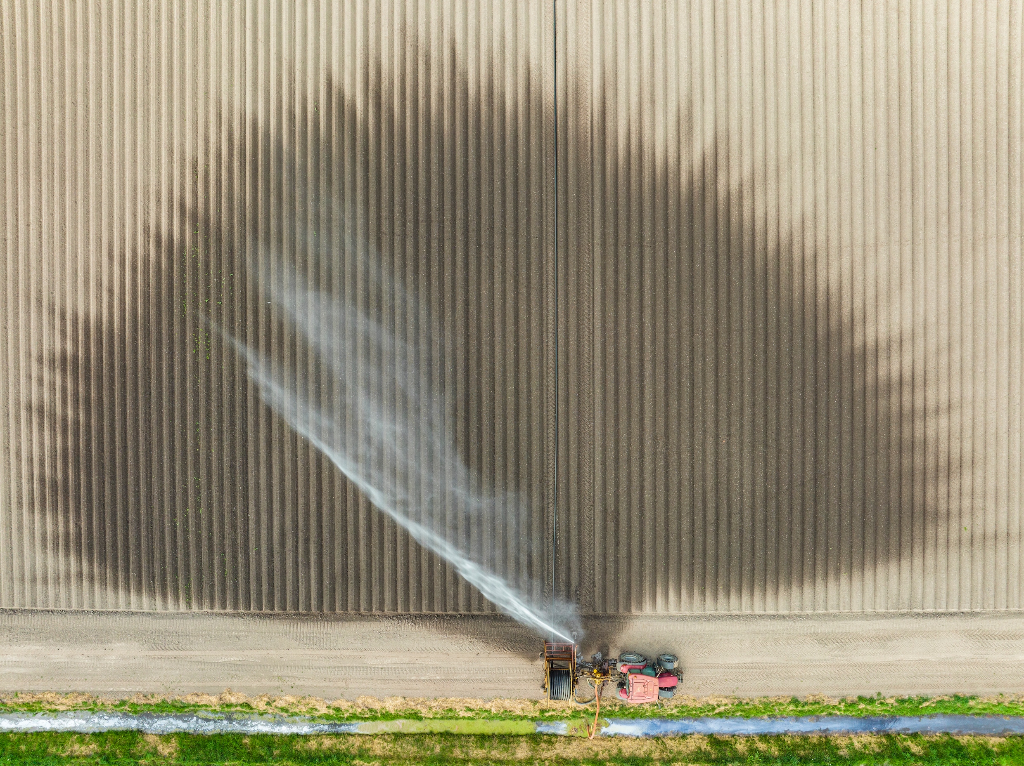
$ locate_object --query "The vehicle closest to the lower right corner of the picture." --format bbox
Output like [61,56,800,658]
[614,653,683,709]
